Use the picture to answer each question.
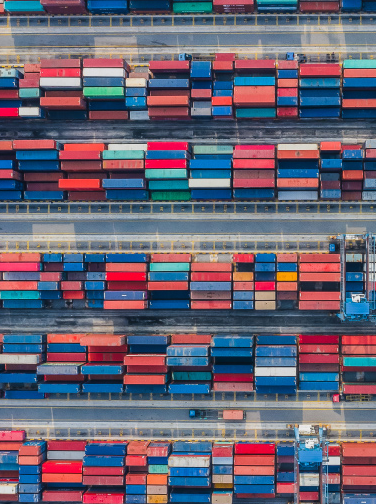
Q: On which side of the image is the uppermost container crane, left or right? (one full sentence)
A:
The uppermost container crane appears in the right half of the scene.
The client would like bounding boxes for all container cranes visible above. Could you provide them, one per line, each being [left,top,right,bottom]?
[283,424,329,504]
[324,231,374,322]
